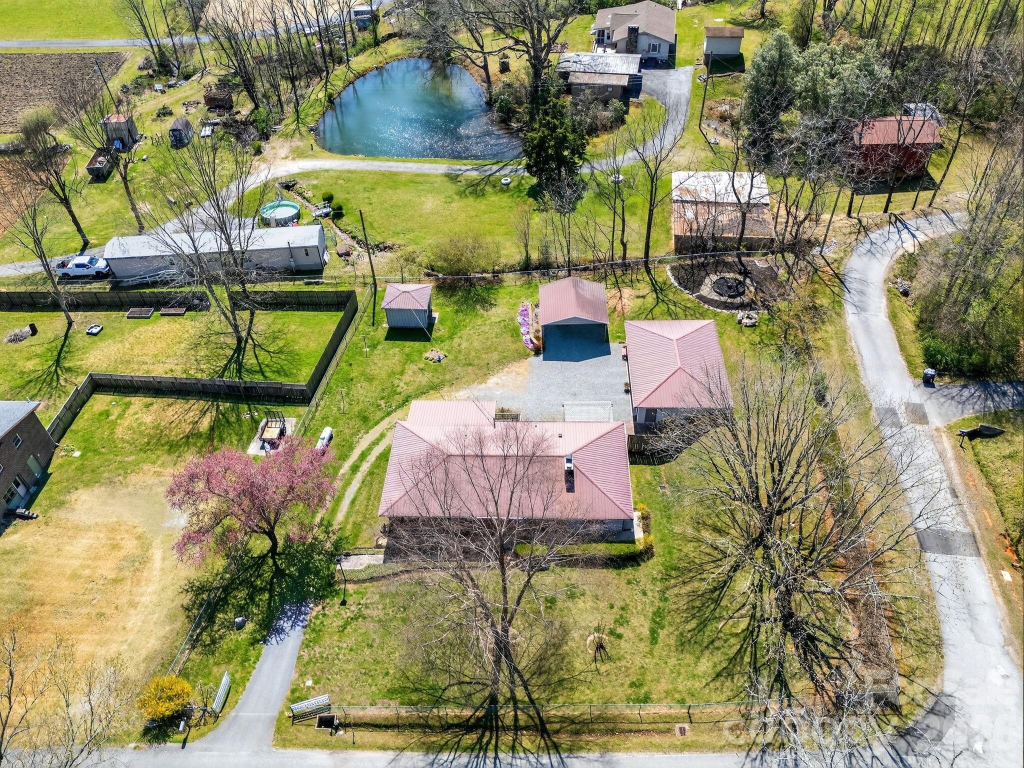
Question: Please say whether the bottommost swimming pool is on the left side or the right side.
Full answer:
The bottommost swimming pool appears in the left half of the scene.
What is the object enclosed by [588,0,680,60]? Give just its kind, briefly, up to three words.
house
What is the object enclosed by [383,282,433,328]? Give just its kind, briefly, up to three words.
shed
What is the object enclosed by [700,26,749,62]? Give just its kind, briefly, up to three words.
shed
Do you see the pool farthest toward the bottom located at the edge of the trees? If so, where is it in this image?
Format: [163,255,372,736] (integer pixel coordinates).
[259,194,303,226]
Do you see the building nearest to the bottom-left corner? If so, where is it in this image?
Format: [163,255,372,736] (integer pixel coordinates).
[0,399,59,533]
